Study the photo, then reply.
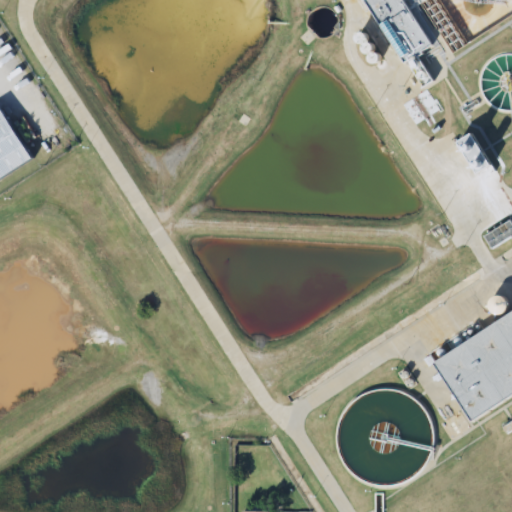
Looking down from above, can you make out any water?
Yes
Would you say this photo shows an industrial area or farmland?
industrial area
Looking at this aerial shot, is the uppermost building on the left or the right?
right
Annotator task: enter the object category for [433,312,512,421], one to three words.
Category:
building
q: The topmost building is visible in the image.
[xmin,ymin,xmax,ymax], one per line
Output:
[362,0,432,58]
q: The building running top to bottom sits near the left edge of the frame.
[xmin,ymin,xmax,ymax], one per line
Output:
[0,108,32,179]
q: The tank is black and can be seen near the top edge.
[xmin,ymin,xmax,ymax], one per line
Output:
[306,6,346,38]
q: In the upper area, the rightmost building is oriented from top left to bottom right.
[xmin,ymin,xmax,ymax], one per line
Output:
[453,132,497,176]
